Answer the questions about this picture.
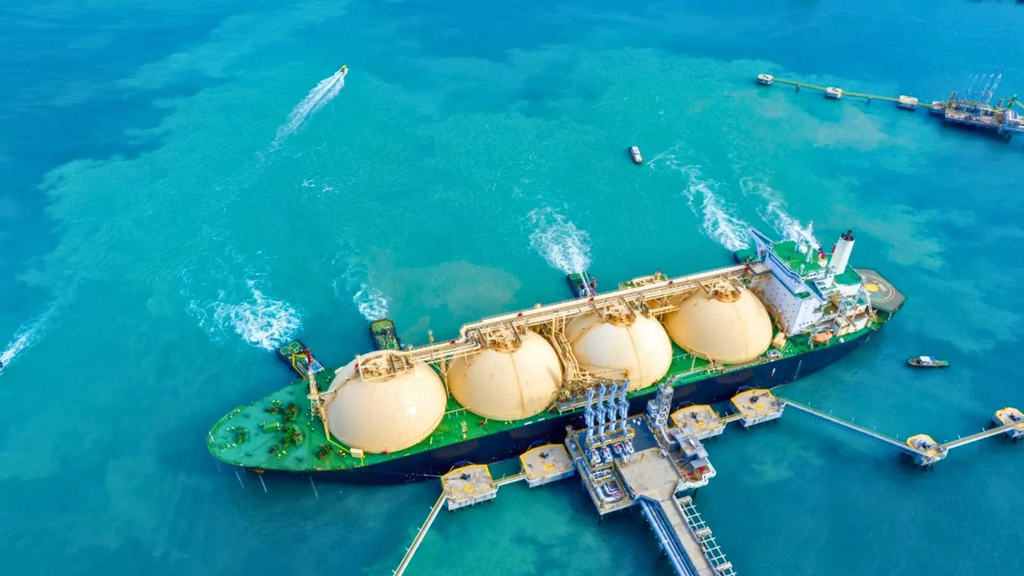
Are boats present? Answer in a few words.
Yes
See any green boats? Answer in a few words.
Yes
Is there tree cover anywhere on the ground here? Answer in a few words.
No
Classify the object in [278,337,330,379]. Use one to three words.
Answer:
boat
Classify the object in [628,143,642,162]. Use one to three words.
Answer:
boat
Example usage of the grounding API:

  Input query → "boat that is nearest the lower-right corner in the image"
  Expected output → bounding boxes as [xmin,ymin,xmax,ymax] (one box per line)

[908,354,953,368]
